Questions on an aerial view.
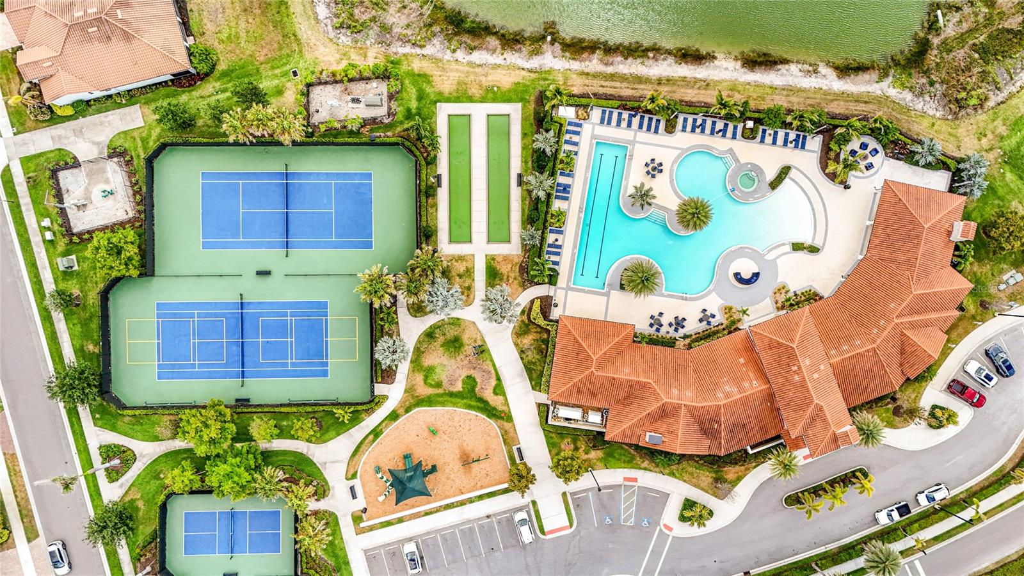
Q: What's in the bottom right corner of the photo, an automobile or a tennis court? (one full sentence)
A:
The one visible in the bottom right corner of the photo is an automobile.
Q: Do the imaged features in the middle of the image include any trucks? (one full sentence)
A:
No, the scene shows no truck in the middle of the image.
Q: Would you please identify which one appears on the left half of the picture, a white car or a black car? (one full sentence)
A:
Looking on the left half of the picture, you will find a white car.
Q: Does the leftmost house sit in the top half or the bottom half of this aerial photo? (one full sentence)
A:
Seen from above, the leftmost house lies in the top half of the view.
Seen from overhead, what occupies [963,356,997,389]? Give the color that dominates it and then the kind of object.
white car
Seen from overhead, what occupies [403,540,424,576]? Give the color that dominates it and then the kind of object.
white car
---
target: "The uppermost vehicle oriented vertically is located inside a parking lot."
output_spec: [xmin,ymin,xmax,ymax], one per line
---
[515,510,534,546]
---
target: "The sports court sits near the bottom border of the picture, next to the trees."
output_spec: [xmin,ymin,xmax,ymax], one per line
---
[166,498,290,576]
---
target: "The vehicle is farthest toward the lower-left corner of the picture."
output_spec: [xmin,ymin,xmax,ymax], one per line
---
[48,540,71,574]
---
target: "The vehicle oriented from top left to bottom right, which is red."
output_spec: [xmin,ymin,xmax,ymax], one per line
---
[942,374,985,406]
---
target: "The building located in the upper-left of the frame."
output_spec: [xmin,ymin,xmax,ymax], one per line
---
[4,0,197,106]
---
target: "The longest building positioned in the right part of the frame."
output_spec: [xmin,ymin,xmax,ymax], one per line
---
[547,179,975,458]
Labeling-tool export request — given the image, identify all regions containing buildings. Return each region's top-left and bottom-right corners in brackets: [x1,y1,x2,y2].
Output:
[4,0,197,106]
[547,179,975,458]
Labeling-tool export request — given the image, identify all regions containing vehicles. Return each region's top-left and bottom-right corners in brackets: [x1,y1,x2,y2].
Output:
[913,481,949,504]
[872,496,915,524]
[515,510,534,546]
[942,374,985,406]
[982,341,1014,378]
[403,540,424,576]
[963,356,997,389]
[48,540,71,574]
